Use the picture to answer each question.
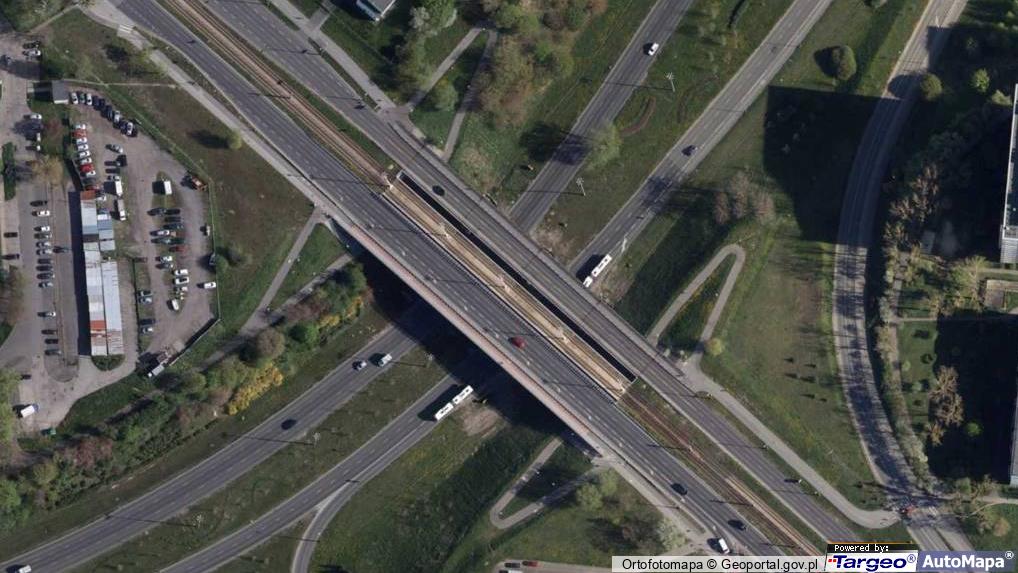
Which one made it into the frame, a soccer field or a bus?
bus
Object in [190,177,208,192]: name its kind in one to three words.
vehicle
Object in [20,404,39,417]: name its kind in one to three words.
vehicle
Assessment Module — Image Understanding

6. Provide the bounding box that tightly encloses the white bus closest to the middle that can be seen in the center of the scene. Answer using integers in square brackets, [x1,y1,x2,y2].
[580,255,613,290]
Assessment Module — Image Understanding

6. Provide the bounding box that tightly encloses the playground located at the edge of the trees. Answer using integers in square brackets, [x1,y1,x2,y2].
[986,281,1018,307]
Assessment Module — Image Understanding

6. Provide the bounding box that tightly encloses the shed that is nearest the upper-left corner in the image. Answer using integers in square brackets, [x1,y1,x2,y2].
[52,81,69,103]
